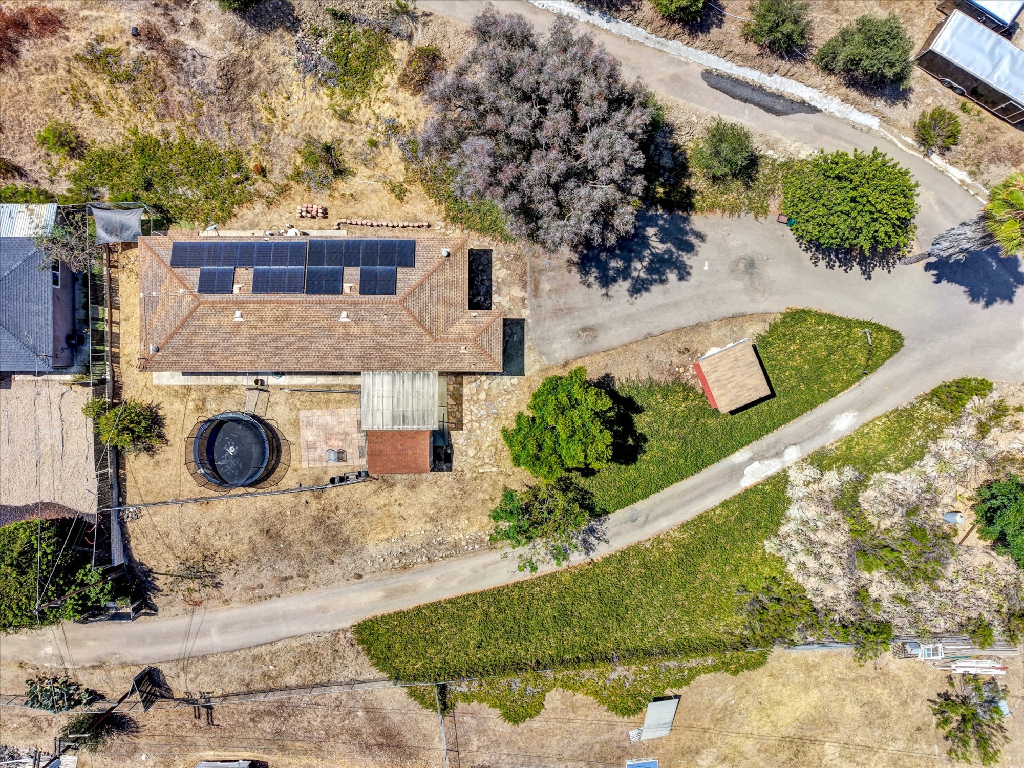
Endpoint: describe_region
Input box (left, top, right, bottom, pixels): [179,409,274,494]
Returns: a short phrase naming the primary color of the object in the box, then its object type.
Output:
black trampoline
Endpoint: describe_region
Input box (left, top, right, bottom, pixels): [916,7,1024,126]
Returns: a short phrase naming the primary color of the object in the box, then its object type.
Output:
white trailer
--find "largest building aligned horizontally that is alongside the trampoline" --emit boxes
[129,231,503,372]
